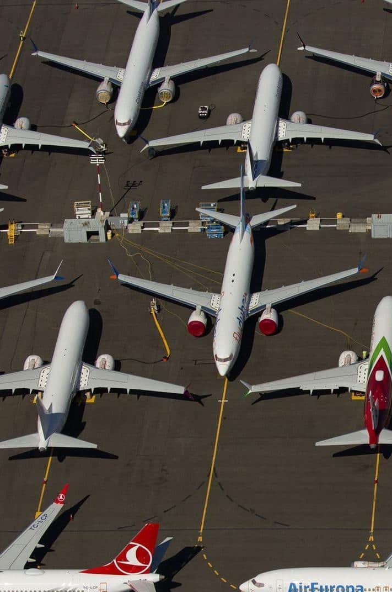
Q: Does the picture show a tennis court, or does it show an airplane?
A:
airplane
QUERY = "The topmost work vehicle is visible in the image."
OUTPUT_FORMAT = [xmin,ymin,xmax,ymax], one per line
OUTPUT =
[198,105,210,119]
